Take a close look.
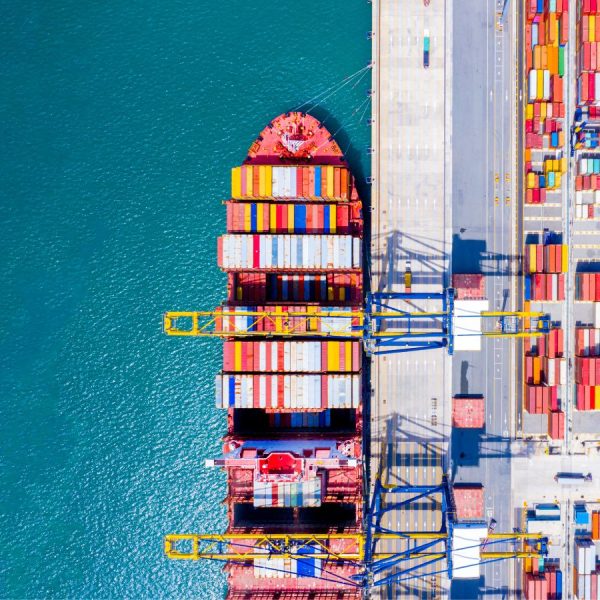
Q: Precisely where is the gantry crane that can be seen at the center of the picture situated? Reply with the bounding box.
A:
[165,287,550,362]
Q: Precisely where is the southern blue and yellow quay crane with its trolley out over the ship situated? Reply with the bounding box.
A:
[164,474,550,591]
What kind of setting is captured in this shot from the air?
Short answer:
port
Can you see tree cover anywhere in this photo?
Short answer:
No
